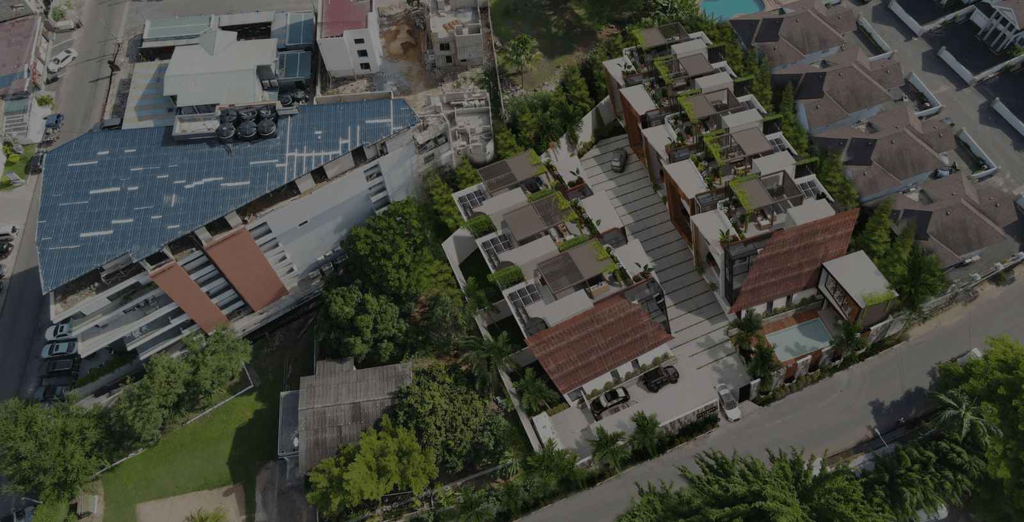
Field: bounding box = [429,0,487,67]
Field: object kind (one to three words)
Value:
house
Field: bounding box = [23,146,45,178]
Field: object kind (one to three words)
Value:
car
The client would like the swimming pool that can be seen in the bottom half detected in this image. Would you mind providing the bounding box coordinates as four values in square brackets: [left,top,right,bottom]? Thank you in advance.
[757,307,860,370]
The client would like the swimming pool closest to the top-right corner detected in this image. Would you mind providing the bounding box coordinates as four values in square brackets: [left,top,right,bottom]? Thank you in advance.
[698,0,766,22]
